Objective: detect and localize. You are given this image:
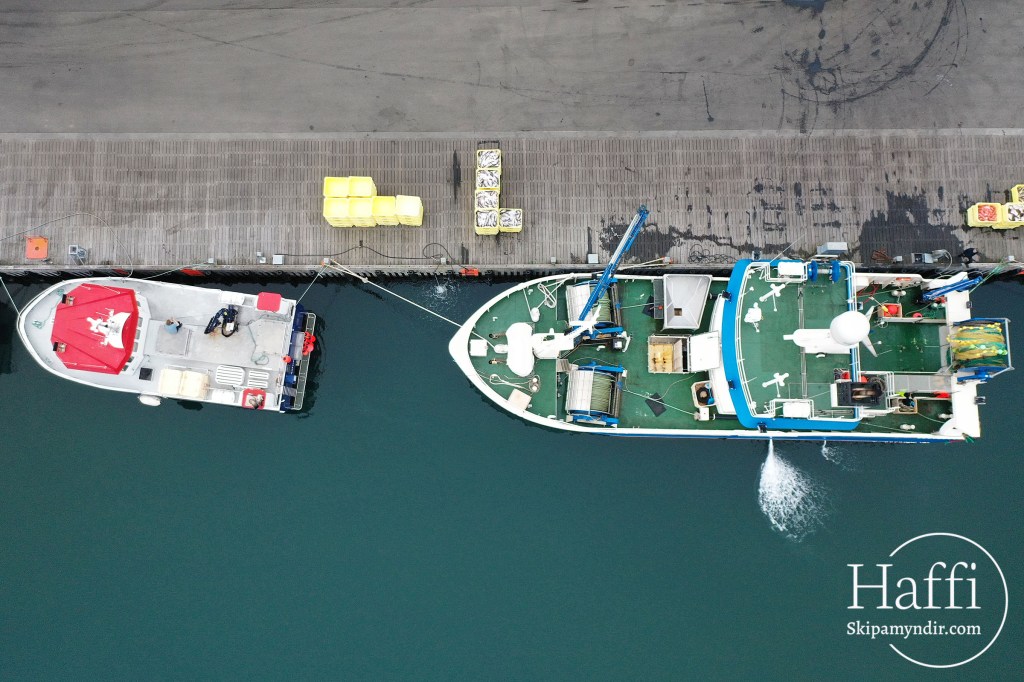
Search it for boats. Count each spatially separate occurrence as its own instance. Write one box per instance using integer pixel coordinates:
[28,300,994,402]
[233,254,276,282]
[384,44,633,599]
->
[448,199,1015,441]
[16,275,317,413]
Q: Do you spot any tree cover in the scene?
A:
No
